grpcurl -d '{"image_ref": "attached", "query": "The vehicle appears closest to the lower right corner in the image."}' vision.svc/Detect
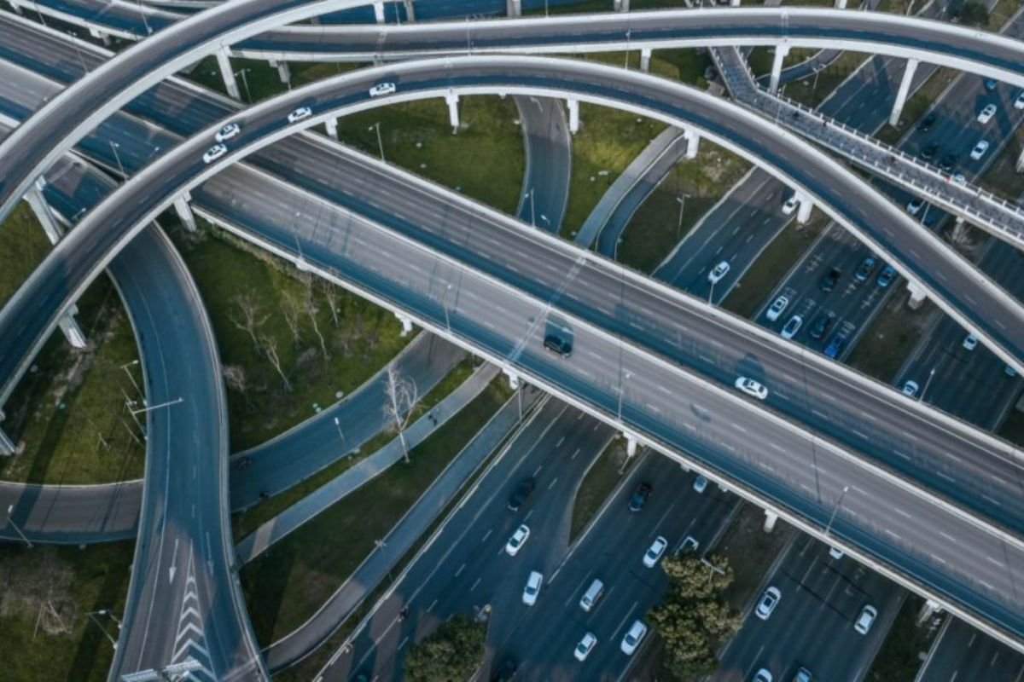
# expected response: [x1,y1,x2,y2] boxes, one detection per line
[852,604,878,636]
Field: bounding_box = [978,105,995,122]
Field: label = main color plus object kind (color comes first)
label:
white car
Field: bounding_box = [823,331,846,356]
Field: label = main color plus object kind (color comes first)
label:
blue car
